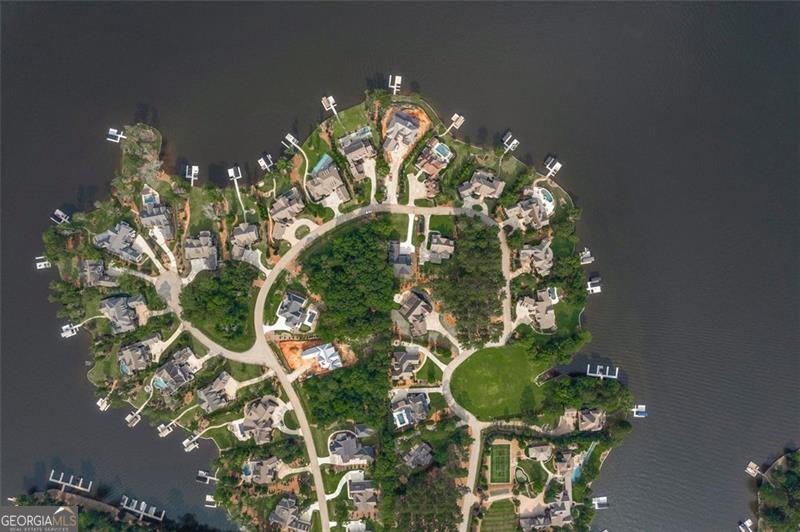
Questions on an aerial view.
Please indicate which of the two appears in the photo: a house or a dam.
house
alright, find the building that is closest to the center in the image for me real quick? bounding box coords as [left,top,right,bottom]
[388,239,412,277]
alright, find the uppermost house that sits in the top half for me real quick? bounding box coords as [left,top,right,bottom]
[380,108,421,152]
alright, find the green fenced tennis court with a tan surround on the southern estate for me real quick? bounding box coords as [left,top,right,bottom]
[489,443,512,484]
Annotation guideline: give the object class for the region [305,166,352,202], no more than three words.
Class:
house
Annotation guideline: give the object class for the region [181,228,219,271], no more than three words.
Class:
house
